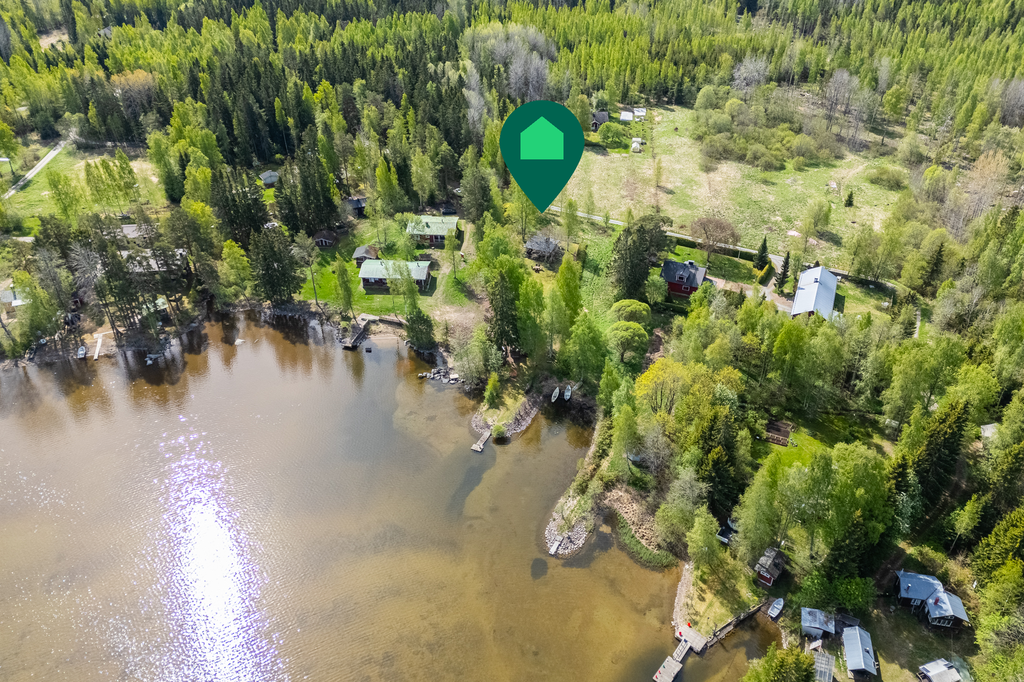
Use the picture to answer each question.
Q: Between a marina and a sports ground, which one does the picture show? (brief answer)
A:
marina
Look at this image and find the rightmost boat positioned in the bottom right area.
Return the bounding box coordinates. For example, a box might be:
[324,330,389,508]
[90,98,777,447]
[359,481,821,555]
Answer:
[768,597,783,620]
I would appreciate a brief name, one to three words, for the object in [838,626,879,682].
shed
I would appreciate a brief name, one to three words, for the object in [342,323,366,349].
pier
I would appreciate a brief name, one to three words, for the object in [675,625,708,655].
pier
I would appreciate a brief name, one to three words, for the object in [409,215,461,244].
building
